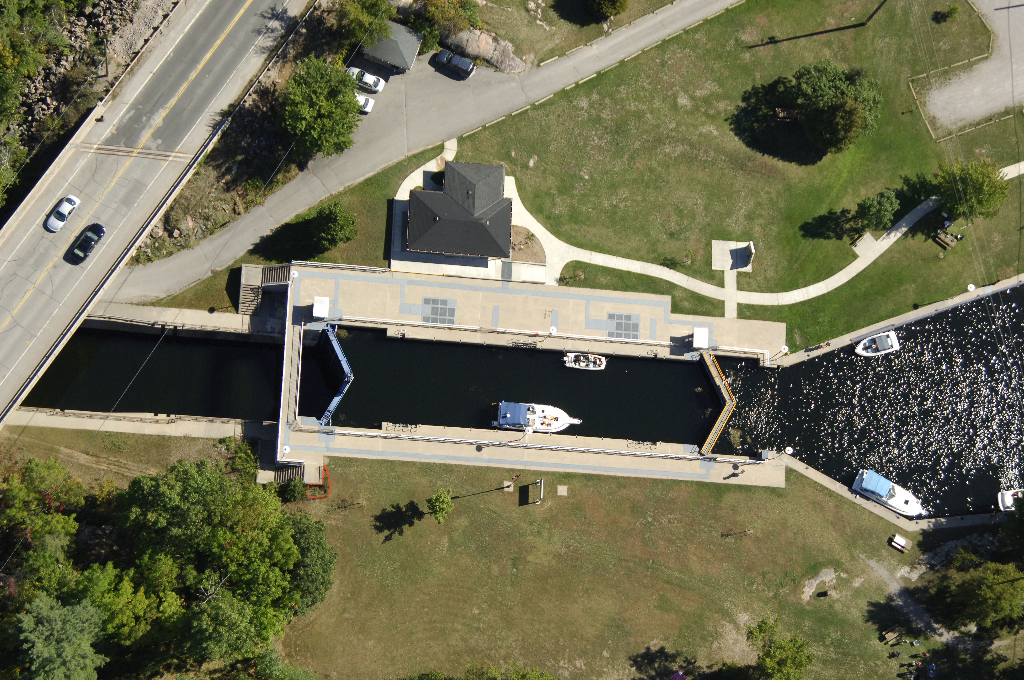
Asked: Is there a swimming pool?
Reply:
No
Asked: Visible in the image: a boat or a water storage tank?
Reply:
boat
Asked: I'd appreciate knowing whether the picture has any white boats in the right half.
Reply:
Yes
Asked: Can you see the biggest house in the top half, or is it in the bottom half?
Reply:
top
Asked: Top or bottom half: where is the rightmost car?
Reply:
top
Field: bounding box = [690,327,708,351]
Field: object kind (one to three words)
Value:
building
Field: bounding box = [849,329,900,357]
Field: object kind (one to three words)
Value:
boat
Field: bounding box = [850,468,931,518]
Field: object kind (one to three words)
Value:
boat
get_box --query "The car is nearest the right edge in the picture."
[435,47,477,79]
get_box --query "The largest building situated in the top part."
[407,161,512,258]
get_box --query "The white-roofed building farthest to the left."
[313,296,329,320]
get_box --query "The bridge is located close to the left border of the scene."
[0,97,200,430]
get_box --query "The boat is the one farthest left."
[489,400,583,431]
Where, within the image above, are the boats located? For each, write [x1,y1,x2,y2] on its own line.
[850,468,931,518]
[996,490,1024,512]
[560,349,611,371]
[489,400,583,431]
[849,329,900,357]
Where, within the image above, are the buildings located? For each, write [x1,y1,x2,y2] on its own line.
[407,161,512,258]
[363,24,422,74]
[690,327,708,351]
[313,296,329,320]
